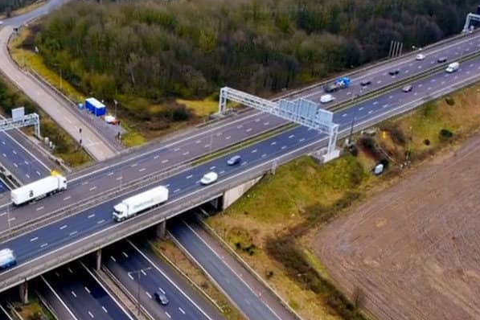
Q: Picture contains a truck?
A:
Yes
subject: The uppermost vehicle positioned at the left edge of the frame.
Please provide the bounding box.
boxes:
[14,176,69,206]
